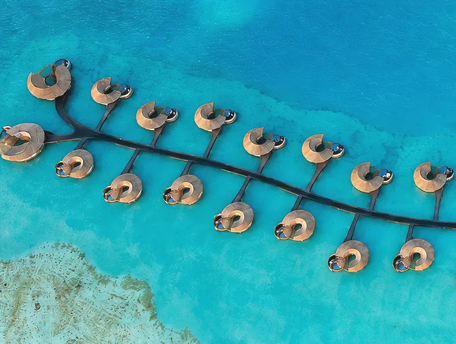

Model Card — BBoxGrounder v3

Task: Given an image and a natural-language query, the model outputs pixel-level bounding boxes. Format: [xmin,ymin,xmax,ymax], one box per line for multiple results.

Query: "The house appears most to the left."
[0,123,47,162]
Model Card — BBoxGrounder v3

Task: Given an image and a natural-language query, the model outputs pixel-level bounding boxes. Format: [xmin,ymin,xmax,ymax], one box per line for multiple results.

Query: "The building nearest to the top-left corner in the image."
[25,57,73,98]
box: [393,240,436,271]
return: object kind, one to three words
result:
house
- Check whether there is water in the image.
Yes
